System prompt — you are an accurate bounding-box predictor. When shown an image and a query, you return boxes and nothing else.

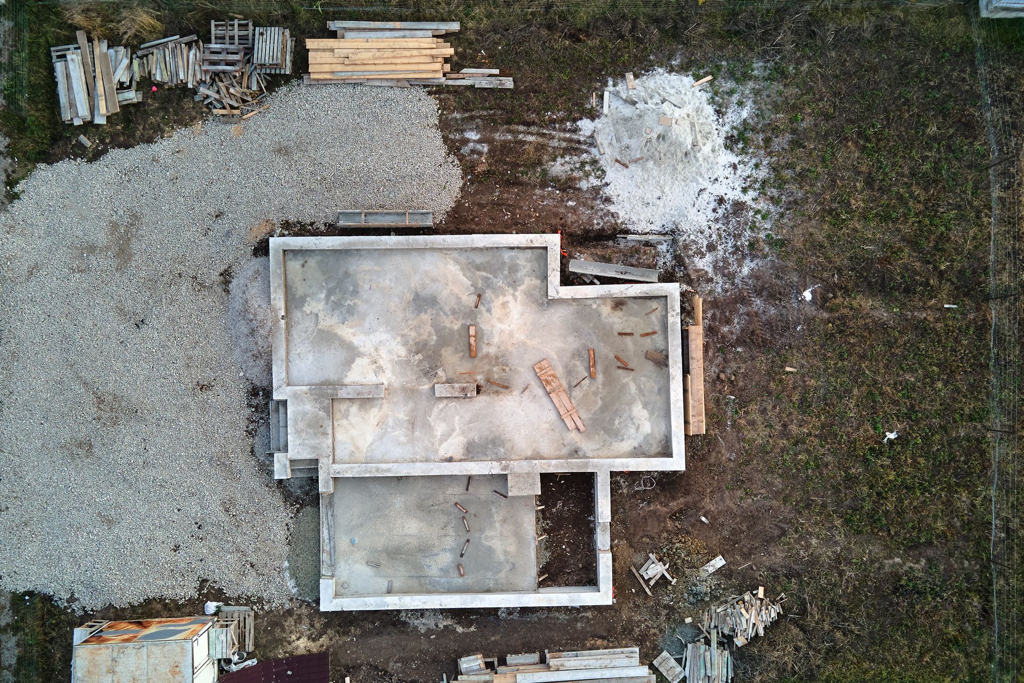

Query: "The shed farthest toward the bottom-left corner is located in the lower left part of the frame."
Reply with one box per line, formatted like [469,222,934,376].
[72,618,219,683]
